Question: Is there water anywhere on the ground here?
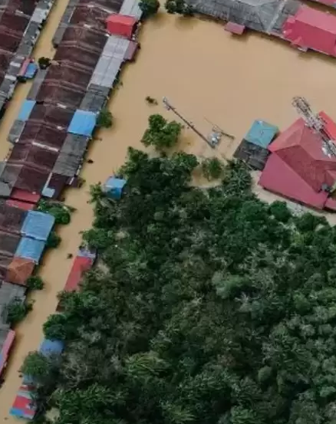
Yes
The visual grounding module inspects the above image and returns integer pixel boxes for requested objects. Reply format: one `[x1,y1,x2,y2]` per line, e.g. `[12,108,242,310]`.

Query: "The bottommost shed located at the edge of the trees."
[10,385,40,420]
